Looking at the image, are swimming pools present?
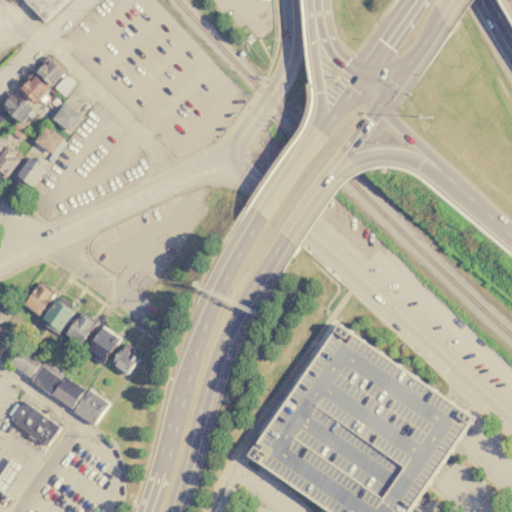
No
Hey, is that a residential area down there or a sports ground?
residential area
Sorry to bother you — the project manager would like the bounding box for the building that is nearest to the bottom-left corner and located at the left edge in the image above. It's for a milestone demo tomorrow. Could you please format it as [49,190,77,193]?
[10,402,60,446]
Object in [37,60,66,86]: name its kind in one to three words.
house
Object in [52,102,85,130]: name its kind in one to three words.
shed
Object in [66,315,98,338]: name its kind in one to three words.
house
